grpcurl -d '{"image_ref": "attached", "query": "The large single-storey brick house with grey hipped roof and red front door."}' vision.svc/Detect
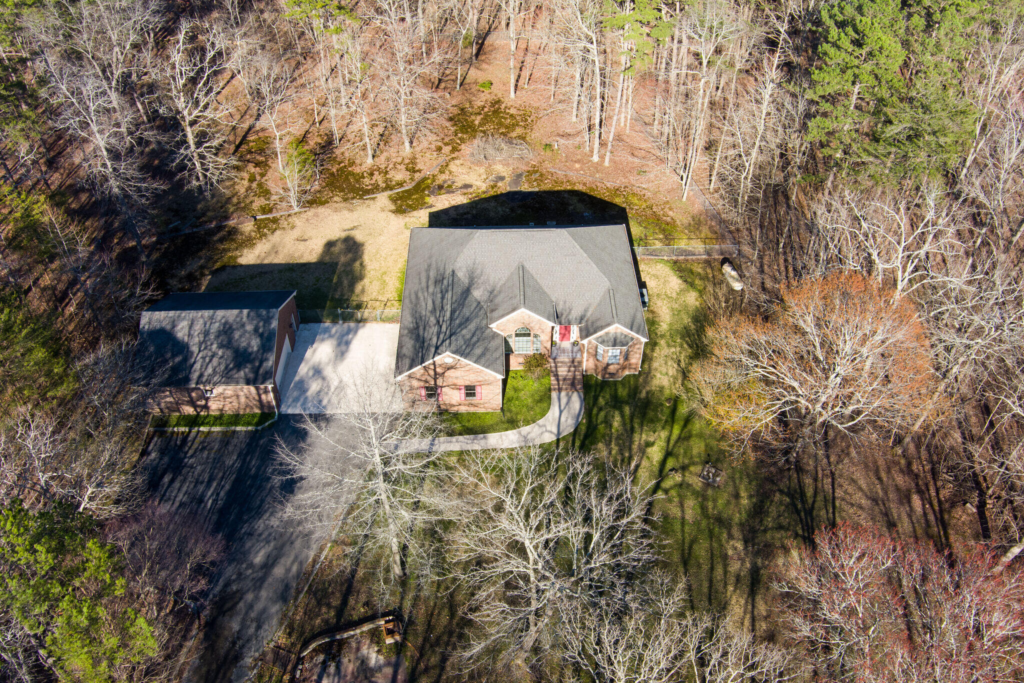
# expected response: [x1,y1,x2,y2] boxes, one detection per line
[395,222,649,420]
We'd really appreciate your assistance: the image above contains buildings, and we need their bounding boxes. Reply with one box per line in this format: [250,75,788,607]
[395,222,649,420]
[132,290,299,416]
